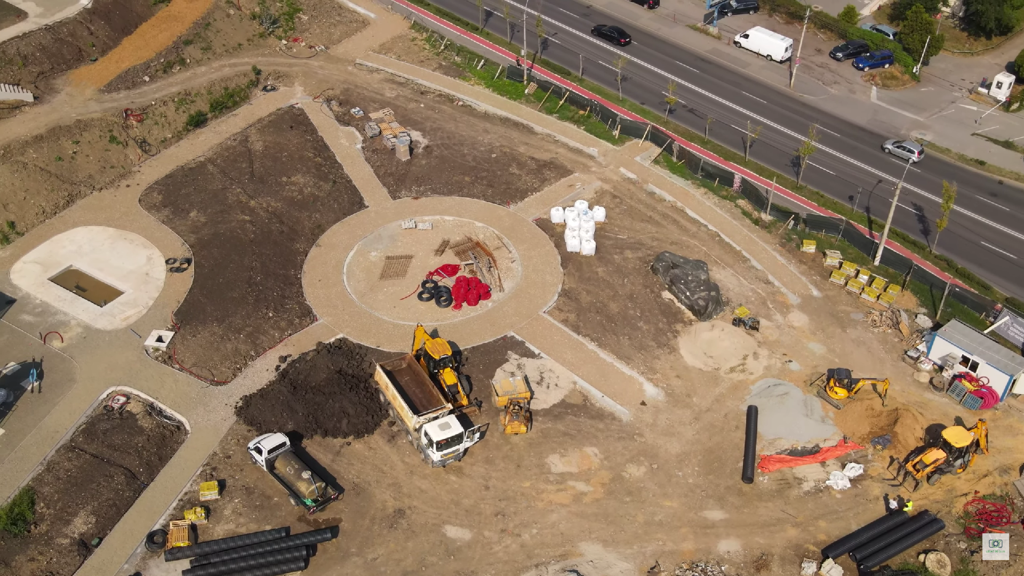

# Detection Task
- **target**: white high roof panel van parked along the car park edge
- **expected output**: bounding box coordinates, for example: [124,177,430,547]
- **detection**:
[730,25,793,63]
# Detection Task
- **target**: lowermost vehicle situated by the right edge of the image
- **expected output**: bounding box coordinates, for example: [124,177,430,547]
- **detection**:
[892,417,991,493]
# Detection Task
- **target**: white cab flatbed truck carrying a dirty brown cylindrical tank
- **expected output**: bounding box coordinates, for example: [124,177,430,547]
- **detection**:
[246,432,335,518]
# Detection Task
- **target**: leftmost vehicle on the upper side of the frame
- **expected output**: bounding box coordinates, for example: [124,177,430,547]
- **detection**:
[585,25,626,47]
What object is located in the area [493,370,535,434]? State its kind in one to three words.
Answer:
truck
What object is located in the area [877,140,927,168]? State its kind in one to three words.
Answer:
car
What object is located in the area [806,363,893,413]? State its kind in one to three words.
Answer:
work vehicle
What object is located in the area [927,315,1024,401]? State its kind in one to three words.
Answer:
building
